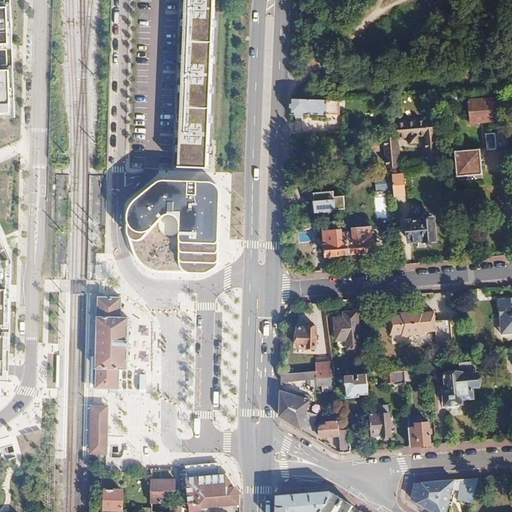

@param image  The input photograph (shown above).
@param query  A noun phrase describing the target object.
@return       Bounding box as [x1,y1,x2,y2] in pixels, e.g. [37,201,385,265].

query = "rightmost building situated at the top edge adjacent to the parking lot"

[176,0,216,168]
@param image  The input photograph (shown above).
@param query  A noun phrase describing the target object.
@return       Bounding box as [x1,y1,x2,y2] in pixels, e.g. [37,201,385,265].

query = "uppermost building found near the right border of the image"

[468,96,493,124]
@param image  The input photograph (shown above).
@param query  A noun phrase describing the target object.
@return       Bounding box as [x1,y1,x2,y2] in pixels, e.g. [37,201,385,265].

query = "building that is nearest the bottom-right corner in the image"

[412,477,481,512]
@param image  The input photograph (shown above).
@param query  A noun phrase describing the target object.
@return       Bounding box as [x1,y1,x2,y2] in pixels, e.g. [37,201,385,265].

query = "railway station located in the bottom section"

[94,297,126,390]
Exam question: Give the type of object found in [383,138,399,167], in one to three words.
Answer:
house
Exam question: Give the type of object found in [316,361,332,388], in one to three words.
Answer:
building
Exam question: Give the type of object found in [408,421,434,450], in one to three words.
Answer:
house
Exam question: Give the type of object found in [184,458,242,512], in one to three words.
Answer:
building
